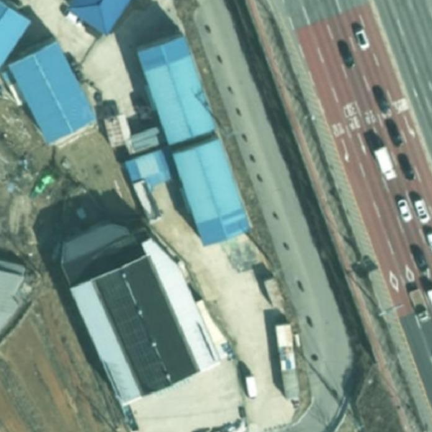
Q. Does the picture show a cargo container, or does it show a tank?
cargo container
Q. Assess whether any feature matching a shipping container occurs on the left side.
Yes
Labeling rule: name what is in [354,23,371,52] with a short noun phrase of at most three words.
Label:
car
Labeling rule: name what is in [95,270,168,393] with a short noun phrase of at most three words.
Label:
solar panel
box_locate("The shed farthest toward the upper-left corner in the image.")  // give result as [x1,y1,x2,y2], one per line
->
[0,0,32,66]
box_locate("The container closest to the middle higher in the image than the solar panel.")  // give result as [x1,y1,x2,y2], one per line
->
[136,183,163,223]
